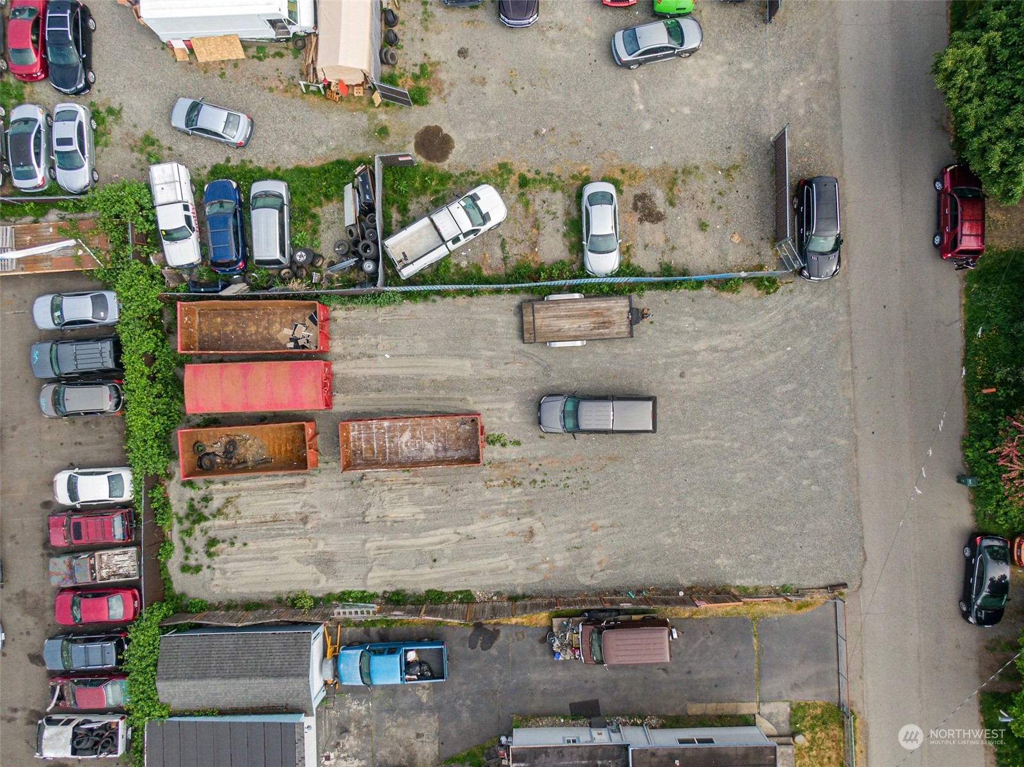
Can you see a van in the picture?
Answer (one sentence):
Yes, you can see a van in this photo.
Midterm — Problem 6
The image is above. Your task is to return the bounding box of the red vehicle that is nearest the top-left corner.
[1,0,51,82]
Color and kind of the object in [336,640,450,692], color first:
blue truck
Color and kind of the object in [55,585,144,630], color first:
red car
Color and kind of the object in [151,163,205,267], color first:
white truck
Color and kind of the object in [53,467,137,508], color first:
white car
